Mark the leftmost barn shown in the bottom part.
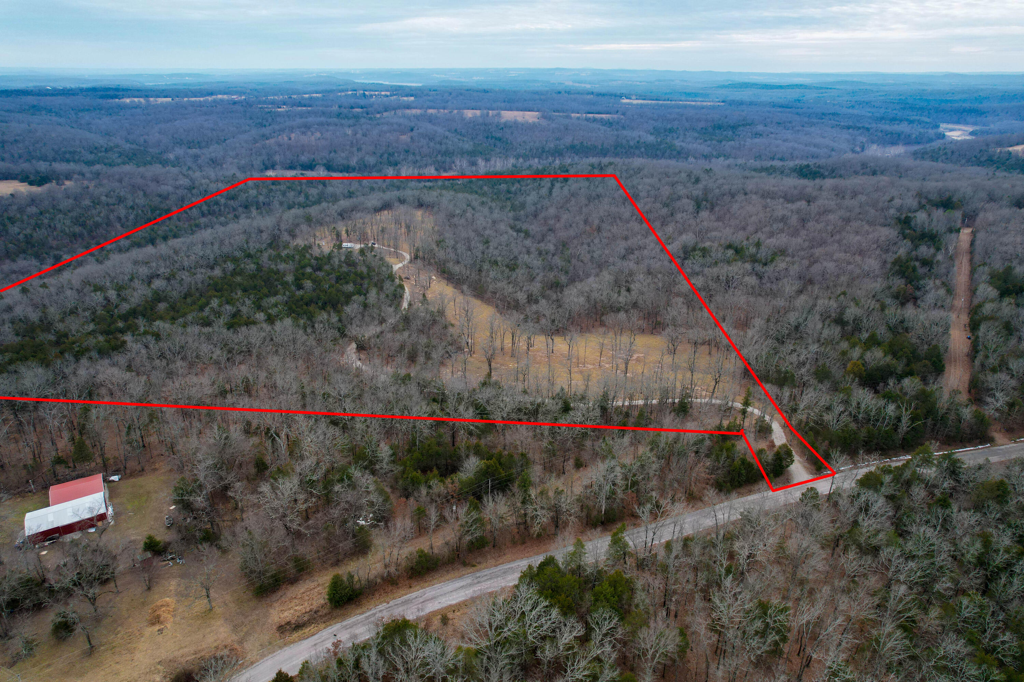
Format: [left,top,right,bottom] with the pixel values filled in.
[23,475,109,546]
